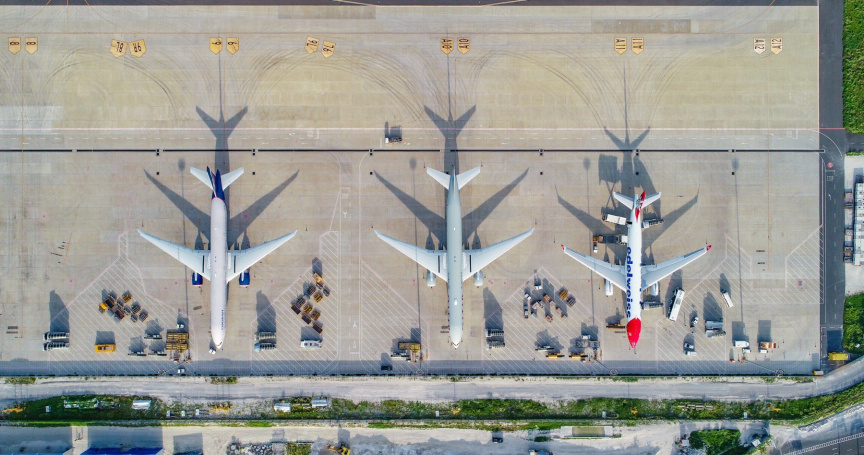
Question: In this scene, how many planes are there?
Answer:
3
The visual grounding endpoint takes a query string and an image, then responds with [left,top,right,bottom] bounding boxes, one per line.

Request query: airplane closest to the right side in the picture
[561,191,715,348]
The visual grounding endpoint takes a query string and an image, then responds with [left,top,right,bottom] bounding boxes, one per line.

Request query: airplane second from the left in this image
[375,169,534,349]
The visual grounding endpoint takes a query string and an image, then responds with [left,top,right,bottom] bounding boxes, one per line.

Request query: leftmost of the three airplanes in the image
[136,167,295,349]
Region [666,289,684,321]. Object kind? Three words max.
vehicle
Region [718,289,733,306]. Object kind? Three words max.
vehicle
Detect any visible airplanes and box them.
[375,169,534,349]
[136,167,295,349]
[561,191,715,348]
